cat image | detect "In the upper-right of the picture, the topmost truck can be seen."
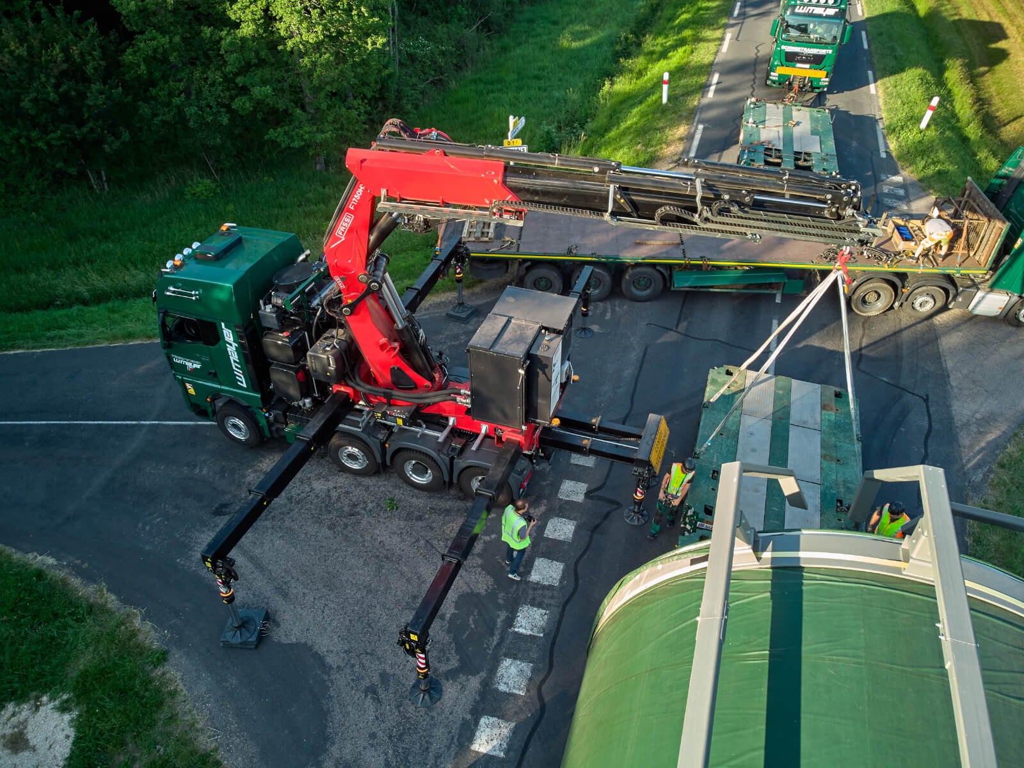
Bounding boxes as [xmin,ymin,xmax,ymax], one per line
[767,0,859,93]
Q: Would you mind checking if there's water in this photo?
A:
No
